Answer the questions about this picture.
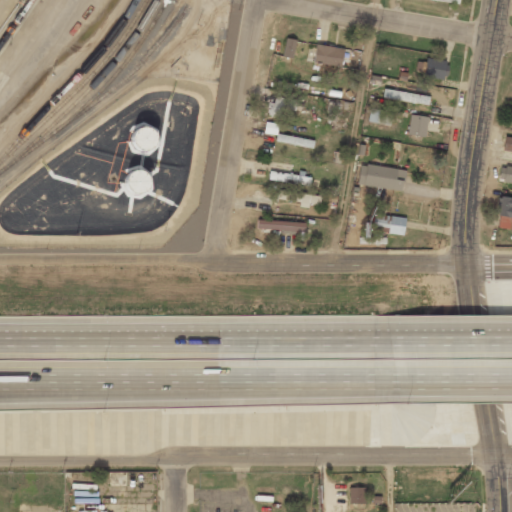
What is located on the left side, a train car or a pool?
train car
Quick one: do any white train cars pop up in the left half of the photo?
Yes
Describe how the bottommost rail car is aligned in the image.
diagonally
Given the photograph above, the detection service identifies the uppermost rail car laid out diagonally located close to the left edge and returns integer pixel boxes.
[14,0,39,24]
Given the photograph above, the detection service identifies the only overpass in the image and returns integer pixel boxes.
[374,316,512,406]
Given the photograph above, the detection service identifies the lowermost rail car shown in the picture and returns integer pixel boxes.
[16,104,52,141]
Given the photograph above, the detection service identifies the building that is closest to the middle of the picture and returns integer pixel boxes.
[258,220,307,232]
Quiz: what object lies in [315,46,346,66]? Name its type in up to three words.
house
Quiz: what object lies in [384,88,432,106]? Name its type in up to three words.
house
